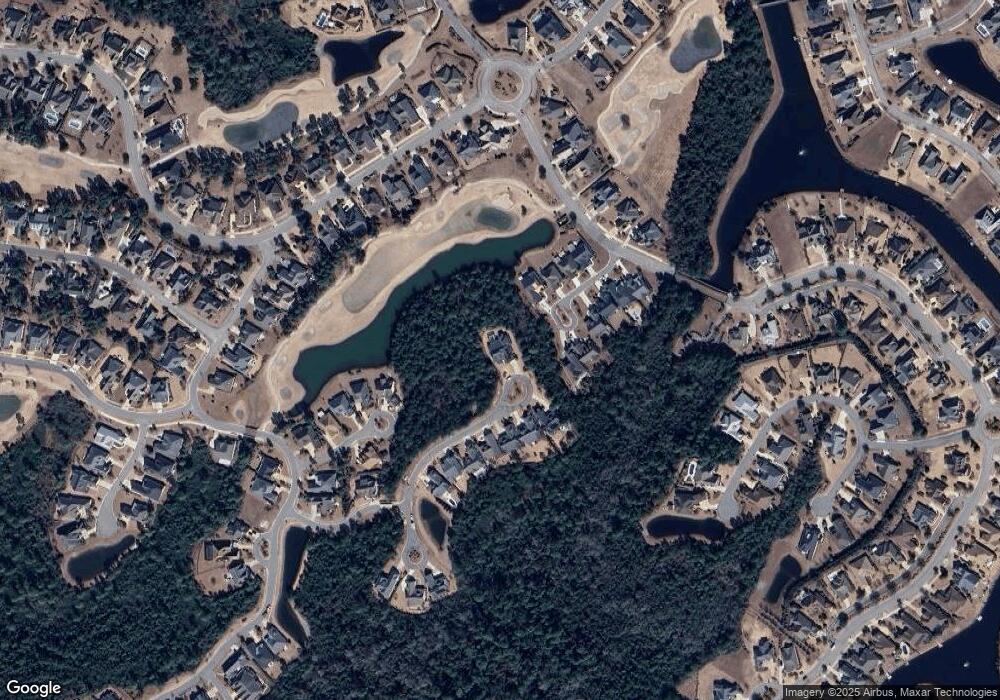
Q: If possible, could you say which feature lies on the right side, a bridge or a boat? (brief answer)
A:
bridge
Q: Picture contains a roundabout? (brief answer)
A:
Yes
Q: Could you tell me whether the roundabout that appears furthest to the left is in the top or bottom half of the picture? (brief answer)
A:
top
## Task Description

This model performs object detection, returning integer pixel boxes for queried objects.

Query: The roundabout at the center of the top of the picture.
[479,56,535,112]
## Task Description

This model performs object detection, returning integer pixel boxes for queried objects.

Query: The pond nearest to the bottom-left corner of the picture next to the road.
[67,535,135,582]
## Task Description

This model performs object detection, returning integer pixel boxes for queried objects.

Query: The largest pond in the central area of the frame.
[288,219,555,417]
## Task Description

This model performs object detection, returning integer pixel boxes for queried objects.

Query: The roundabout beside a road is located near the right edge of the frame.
[976,408,1000,445]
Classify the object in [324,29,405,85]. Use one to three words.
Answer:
pond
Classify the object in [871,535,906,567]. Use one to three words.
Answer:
house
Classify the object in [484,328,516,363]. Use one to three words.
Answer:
house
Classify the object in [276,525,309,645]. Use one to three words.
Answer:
pond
